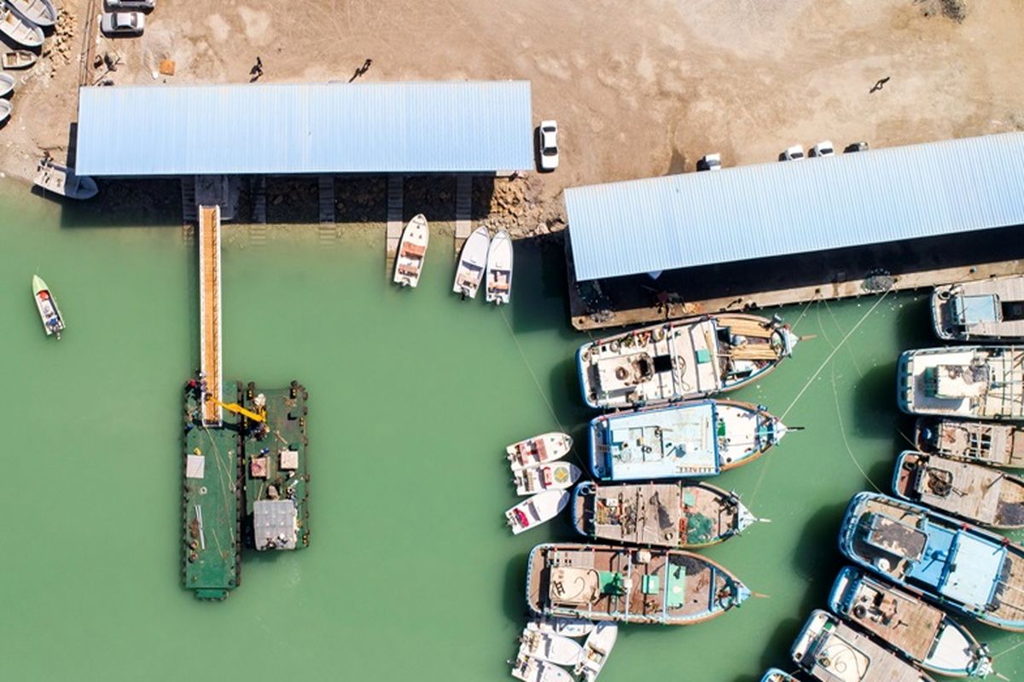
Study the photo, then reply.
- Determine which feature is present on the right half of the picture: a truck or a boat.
boat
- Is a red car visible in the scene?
No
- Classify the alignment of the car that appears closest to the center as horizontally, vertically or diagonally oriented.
vertically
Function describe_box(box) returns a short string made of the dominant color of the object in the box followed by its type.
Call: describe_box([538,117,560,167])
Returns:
white car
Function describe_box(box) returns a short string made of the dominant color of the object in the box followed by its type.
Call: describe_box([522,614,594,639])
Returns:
white boat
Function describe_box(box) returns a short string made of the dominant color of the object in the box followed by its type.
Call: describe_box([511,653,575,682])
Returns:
white boat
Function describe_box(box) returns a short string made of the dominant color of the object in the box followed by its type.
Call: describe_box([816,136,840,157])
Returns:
white car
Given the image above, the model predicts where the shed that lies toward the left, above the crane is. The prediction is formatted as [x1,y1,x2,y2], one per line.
[75,80,534,179]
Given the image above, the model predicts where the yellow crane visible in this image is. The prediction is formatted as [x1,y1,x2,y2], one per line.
[201,392,270,429]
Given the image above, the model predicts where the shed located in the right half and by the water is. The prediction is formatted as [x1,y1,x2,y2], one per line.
[563,131,1024,281]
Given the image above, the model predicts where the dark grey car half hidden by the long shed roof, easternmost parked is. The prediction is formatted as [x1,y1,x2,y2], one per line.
[852,136,872,153]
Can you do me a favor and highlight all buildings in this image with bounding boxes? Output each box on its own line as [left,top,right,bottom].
[75,80,534,179]
[563,131,1024,281]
